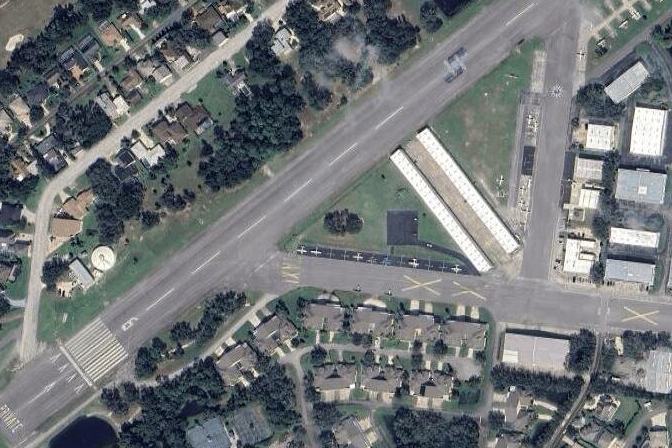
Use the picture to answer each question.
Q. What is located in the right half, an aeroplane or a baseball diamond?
aeroplane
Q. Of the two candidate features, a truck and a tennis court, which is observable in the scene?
tennis court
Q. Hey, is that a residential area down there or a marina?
residential area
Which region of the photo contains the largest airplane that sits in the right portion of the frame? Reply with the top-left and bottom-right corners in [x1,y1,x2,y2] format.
[442,45,469,85]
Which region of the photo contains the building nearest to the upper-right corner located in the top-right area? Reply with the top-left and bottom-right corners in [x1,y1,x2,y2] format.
[606,61,652,103]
